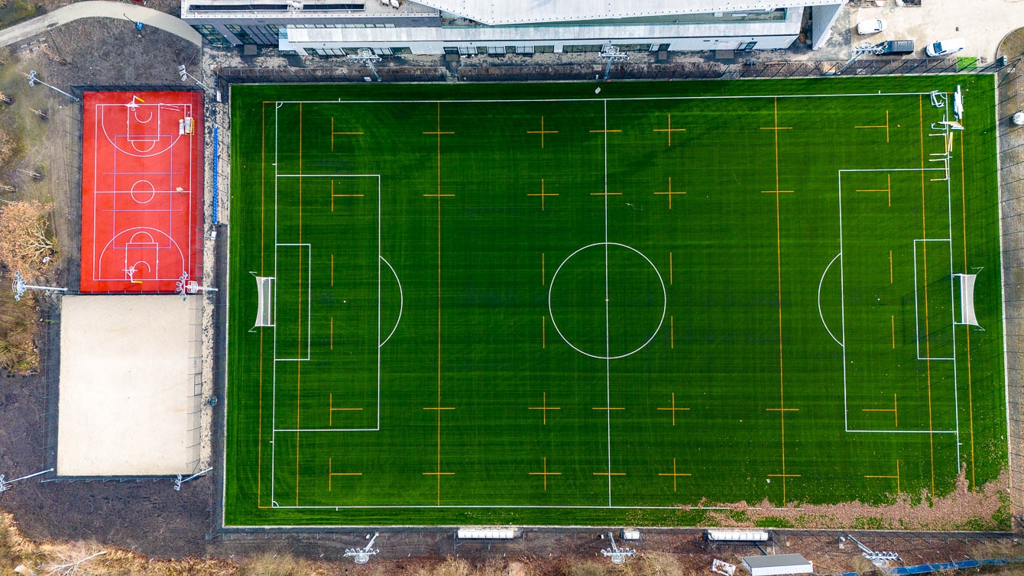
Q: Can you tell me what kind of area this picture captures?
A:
sports ground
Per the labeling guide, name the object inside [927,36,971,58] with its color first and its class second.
white vehicle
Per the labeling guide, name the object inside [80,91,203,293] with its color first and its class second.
red basketball court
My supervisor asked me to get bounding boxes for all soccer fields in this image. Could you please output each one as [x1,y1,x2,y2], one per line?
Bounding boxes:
[221,71,1016,536]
